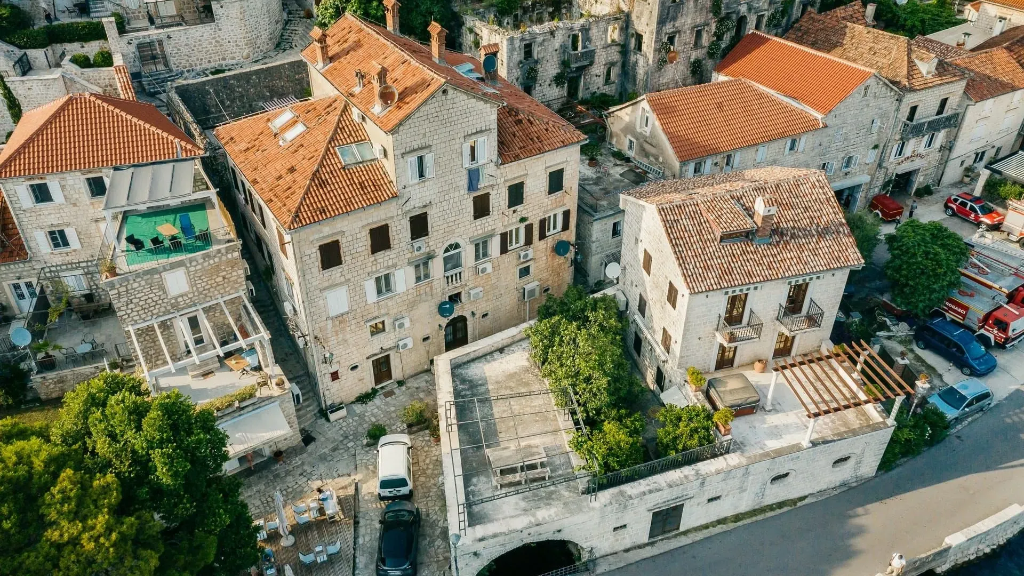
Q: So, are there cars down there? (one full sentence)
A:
Yes, you can see a car in this photo.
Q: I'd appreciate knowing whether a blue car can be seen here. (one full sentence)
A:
Yes, the image includes a blue car.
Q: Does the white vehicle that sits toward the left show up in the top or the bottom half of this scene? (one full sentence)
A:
The white vehicle that sits toward the left is in the bottom half of the image.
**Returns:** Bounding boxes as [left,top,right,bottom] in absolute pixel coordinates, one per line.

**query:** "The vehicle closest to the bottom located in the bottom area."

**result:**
[374,501,423,576]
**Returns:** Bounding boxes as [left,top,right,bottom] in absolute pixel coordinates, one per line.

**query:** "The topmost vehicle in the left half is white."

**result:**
[378,429,418,497]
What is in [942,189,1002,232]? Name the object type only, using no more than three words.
car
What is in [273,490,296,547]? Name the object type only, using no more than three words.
umbrella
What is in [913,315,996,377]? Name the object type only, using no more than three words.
car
